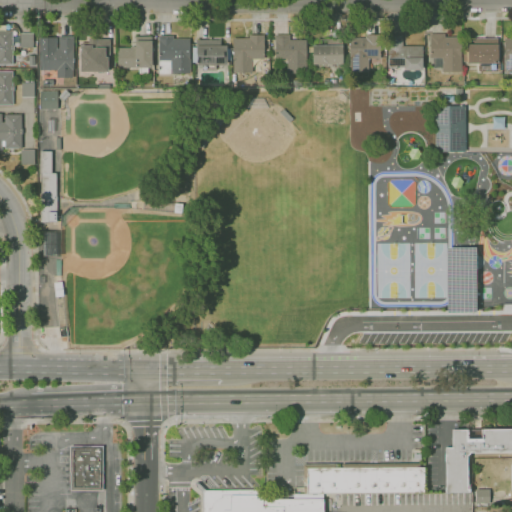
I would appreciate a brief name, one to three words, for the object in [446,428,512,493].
building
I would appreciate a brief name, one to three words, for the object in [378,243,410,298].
basketball court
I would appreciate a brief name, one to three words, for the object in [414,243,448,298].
basketball court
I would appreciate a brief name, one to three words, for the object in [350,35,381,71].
house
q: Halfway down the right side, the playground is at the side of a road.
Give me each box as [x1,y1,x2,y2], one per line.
[371,107,512,310]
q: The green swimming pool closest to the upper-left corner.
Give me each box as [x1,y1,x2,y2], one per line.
[202,72,224,84]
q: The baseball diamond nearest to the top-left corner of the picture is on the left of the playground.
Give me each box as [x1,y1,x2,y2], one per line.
[62,90,208,205]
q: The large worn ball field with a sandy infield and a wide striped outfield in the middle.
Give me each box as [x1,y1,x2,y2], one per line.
[166,90,369,348]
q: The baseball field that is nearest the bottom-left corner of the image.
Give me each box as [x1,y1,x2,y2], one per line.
[62,207,210,350]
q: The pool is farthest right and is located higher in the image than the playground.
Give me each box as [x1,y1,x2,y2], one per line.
[403,70,422,85]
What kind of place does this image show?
sports ground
